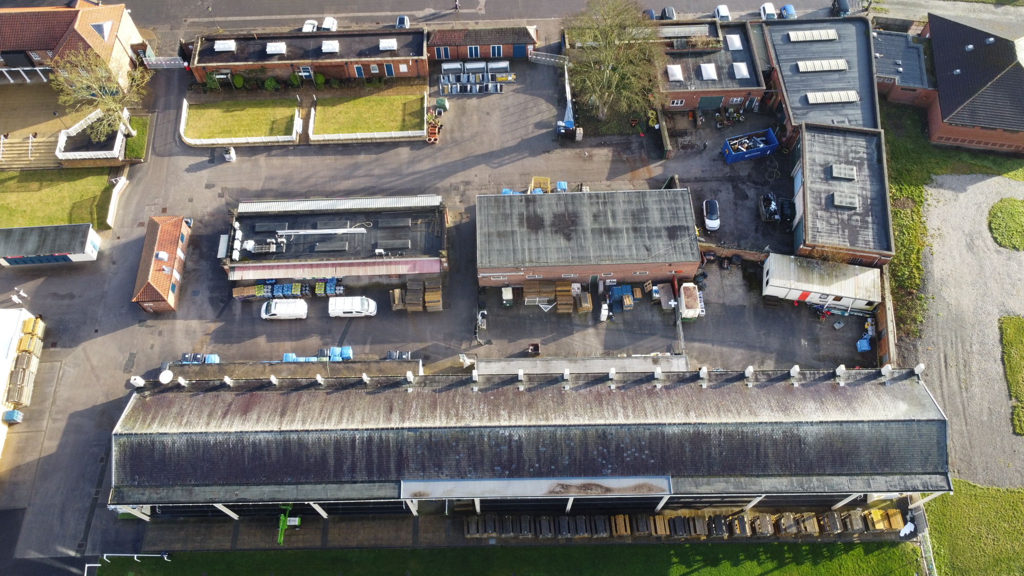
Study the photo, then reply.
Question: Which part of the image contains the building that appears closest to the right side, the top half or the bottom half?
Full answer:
The building that appears closest to the right side is in the top half of the image.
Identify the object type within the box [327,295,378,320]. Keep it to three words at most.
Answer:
vehicle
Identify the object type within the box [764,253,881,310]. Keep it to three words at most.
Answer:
building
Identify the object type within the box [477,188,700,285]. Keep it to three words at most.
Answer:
building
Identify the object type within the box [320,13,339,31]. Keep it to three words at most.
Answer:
car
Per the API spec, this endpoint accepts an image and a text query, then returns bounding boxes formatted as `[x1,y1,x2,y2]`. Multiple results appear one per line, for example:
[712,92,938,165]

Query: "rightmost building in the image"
[921,12,1024,152]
